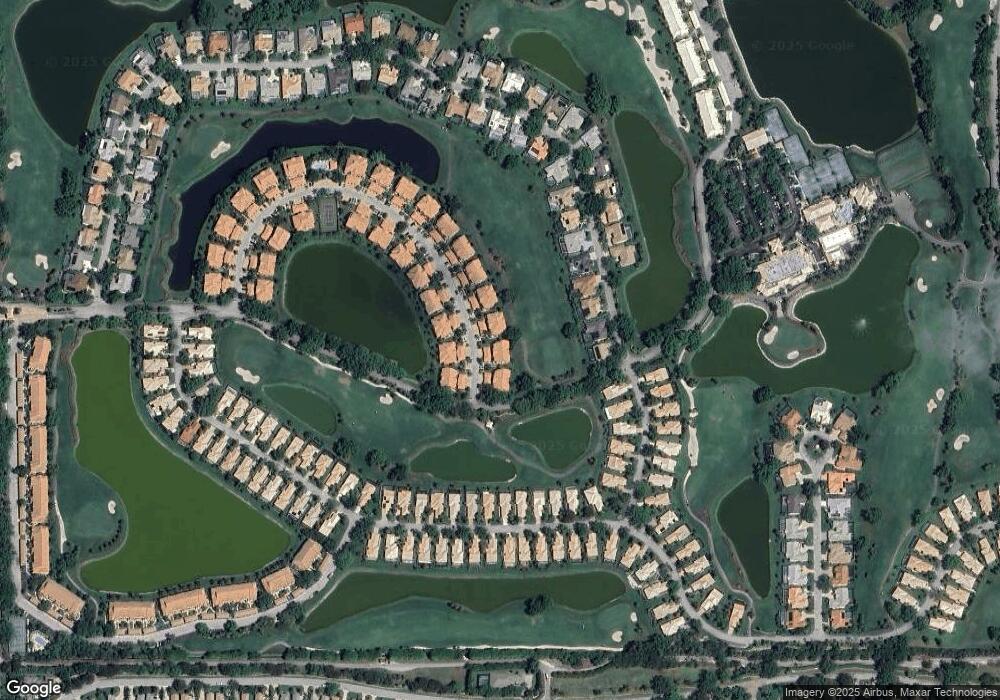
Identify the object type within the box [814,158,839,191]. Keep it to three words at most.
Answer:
tennis court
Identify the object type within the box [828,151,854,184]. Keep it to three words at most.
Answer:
tennis court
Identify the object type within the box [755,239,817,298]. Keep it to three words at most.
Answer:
building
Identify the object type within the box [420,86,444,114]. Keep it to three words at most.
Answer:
house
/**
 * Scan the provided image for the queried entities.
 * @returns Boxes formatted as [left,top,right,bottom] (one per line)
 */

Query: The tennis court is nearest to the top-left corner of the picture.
[318,198,336,233]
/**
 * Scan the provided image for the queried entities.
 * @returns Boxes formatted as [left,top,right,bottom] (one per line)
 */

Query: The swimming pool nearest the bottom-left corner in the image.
[30,633,47,651]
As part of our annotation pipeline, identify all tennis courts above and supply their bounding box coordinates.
[766,108,789,142]
[814,158,839,191]
[10,616,26,655]
[318,198,336,233]
[828,151,854,184]
[797,166,822,203]
[784,135,810,170]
